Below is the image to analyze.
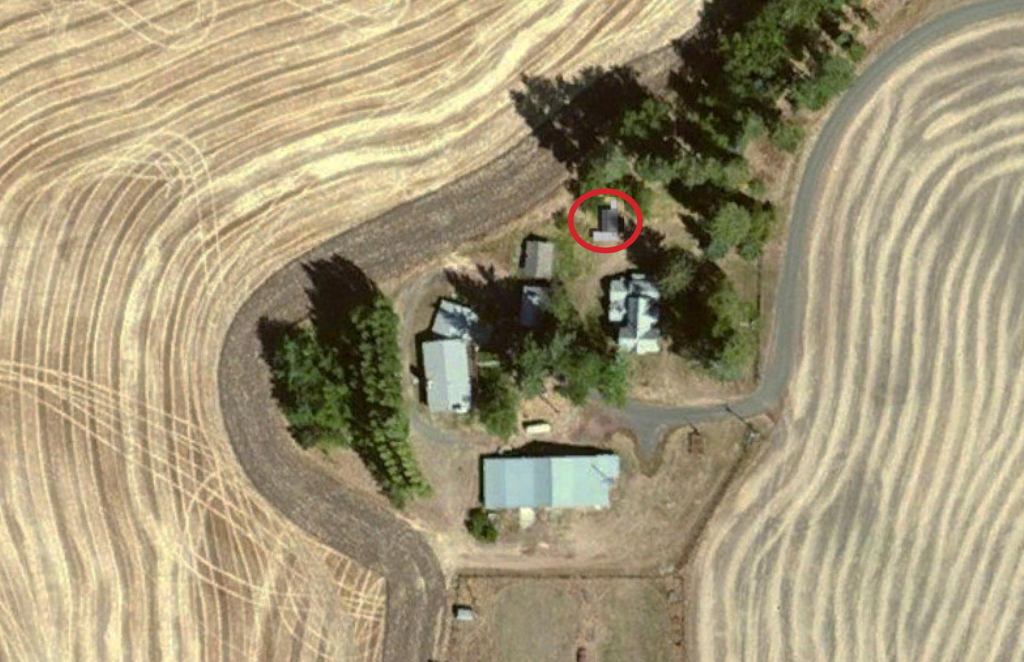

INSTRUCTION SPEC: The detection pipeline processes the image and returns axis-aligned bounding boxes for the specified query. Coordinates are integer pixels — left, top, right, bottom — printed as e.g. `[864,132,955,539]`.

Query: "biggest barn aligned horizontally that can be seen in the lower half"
[484,454,620,509]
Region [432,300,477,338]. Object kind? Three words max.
shed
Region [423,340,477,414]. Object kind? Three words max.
building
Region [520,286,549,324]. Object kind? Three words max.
shed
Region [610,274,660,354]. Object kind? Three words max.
house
